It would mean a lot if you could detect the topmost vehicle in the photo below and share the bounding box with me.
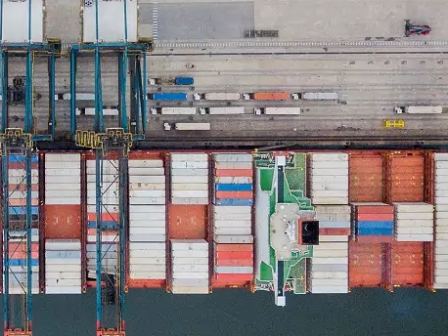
[403,18,433,37]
